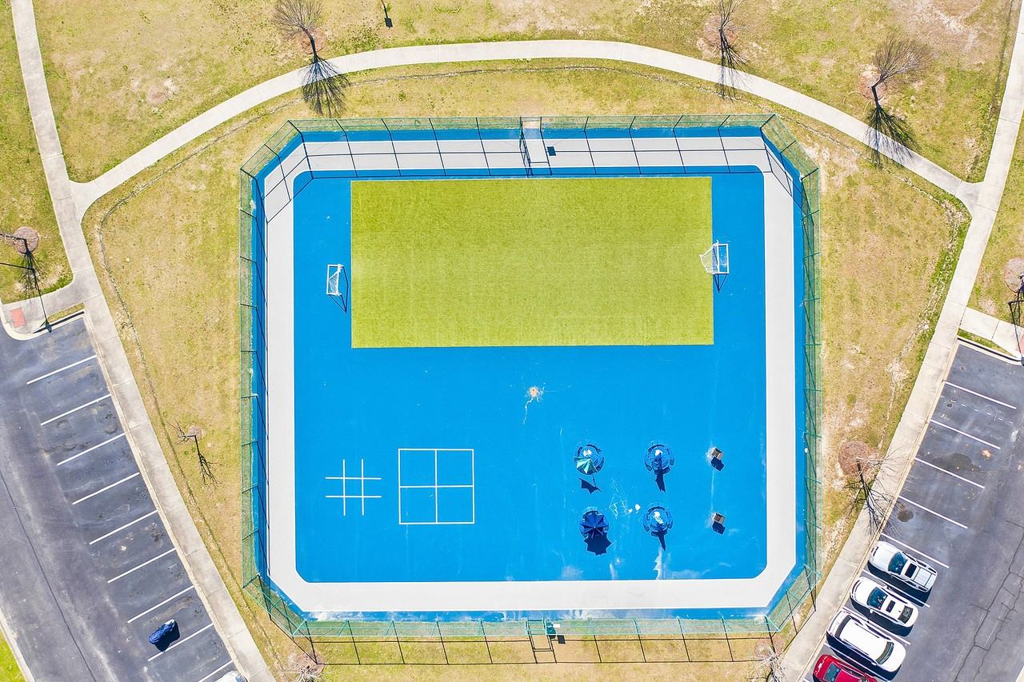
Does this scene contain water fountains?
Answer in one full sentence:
No, there is no water fountain in the image.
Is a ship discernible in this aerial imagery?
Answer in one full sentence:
No, no ship can be seen from above.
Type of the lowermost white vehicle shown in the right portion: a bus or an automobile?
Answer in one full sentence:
I'd say the lowermost white vehicle shown in the right portion is an automobile.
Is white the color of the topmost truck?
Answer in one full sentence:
Yes, the topmost truck appears white.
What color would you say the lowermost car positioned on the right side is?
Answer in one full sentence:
The lowermost car positioned on the right side looks red in the image.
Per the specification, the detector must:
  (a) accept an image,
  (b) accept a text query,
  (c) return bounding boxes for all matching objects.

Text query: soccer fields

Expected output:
[351,176,714,348]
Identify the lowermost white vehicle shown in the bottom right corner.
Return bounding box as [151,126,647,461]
[825,608,903,668]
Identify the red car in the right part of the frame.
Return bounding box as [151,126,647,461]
[810,654,870,682]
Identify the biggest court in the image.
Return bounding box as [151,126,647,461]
[256,128,805,621]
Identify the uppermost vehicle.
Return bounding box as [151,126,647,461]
[865,540,938,593]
